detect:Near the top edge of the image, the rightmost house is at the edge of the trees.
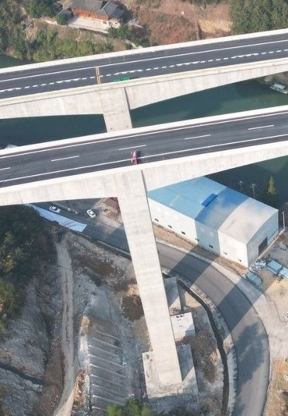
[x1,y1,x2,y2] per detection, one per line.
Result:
[72,1,133,34]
